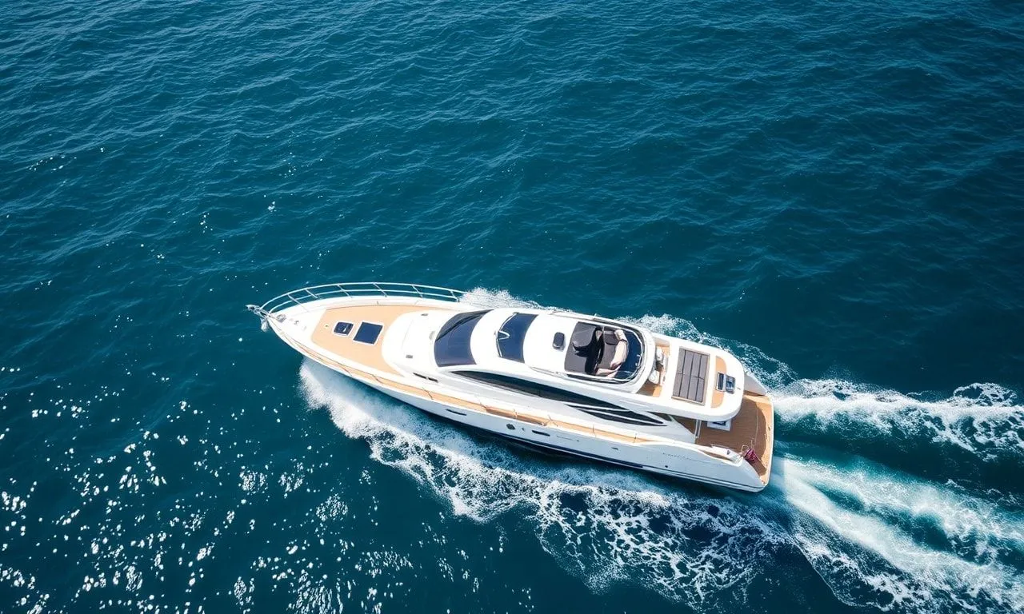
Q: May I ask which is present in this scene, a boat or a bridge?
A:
boat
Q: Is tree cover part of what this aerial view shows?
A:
No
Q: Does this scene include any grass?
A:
No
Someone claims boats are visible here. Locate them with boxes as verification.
[246,285,774,493]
